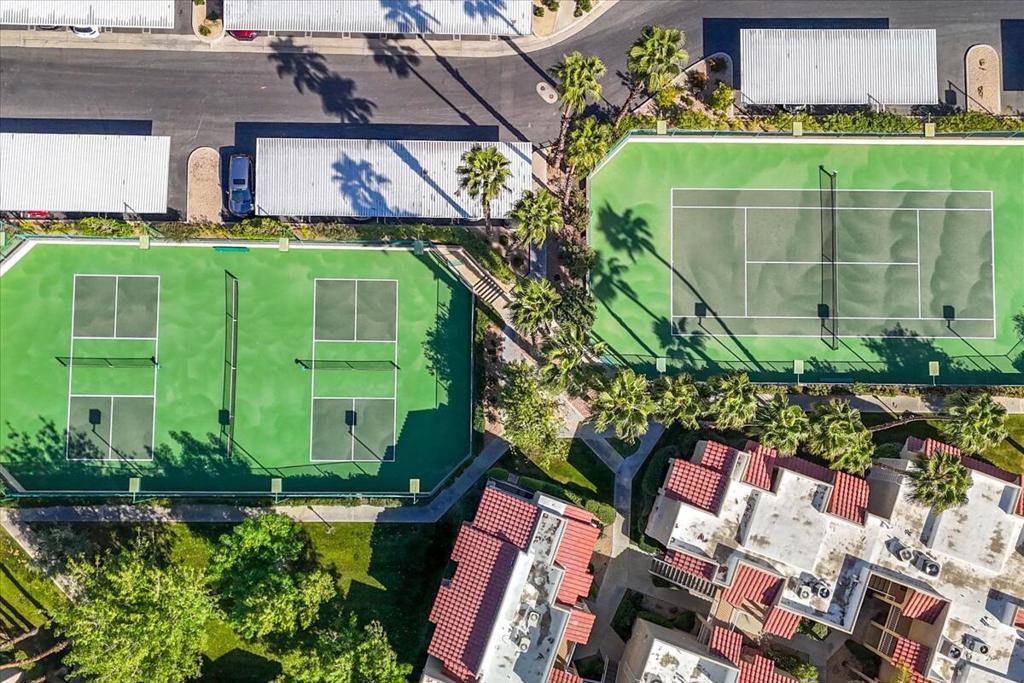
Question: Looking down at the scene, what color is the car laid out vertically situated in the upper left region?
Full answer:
The color of the car laid out vertically situated in the upper left region is blue.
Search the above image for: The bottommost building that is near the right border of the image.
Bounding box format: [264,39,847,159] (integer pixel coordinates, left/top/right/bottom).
[647,435,1024,683]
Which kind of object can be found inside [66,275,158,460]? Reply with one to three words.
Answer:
sports court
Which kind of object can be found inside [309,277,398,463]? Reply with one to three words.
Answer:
sports court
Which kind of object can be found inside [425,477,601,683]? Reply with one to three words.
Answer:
building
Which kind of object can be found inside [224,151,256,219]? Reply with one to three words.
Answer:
car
